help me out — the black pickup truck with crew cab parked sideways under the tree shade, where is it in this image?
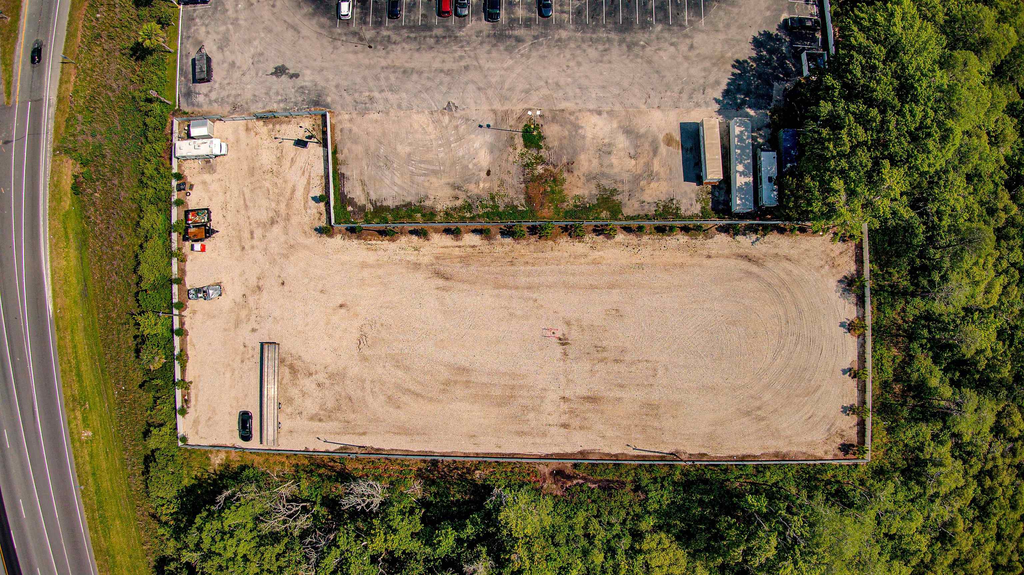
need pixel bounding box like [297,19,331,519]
[788,13,823,30]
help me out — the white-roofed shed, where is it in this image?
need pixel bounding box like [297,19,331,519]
[189,119,215,140]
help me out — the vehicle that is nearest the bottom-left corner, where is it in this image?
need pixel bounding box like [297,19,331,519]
[237,411,253,442]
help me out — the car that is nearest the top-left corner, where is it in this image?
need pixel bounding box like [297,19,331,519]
[27,40,44,65]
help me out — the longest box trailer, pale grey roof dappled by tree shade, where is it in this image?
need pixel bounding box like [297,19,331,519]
[729,118,753,214]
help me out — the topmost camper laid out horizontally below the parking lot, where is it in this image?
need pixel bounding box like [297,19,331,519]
[176,139,234,160]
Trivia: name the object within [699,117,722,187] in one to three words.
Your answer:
trailer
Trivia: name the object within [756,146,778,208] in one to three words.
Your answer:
vehicle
